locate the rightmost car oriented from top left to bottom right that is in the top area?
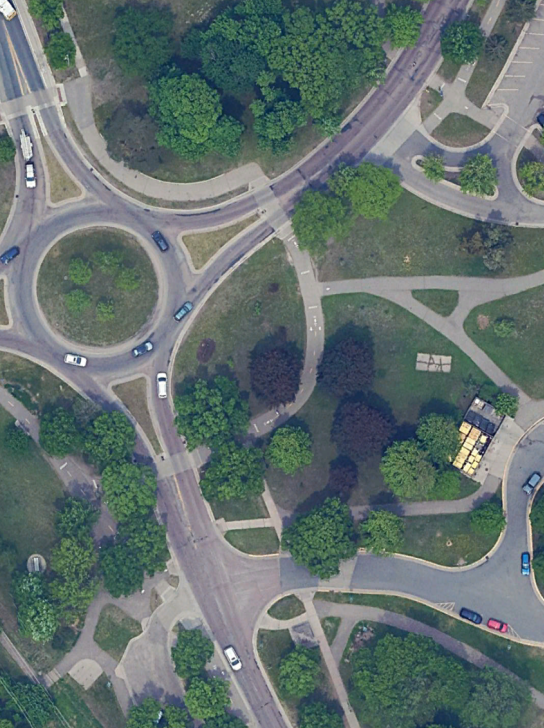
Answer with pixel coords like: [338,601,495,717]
[152,230,170,252]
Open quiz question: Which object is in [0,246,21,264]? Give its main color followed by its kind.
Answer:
blue car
